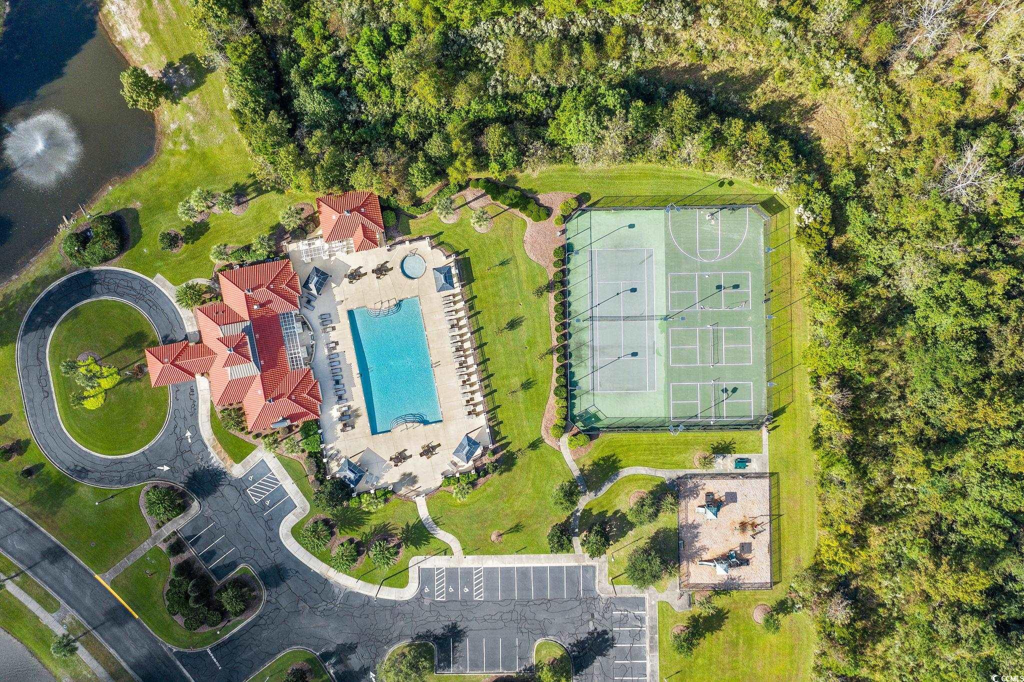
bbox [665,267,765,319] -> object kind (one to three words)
sports court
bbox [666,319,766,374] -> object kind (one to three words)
sports court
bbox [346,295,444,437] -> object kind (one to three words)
swimming pool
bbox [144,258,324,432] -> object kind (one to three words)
building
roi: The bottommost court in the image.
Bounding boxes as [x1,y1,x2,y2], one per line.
[666,374,766,430]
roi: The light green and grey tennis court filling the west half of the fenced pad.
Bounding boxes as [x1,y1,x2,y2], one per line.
[567,208,666,430]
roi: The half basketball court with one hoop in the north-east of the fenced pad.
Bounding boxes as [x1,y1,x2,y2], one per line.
[665,208,765,267]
